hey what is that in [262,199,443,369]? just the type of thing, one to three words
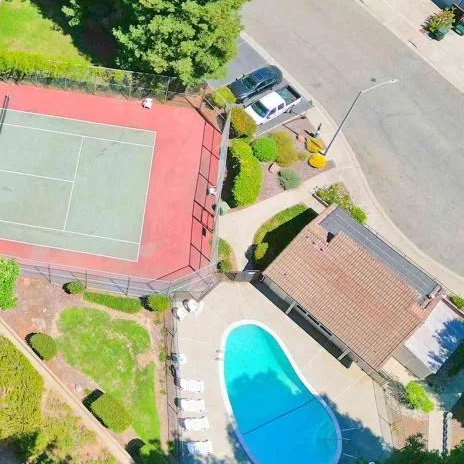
building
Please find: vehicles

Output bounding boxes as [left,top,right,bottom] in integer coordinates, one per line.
[224,65,282,102]
[246,76,309,124]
